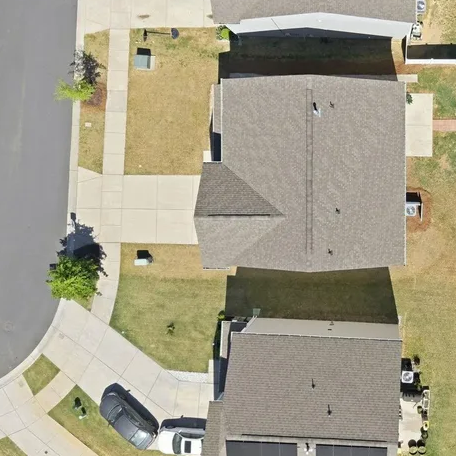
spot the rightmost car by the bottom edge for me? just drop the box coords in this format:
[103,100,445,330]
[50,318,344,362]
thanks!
[158,424,200,456]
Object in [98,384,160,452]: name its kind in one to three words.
car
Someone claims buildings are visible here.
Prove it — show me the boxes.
[196,309,401,456]
[192,75,407,272]
[205,0,417,39]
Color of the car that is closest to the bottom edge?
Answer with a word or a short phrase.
white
